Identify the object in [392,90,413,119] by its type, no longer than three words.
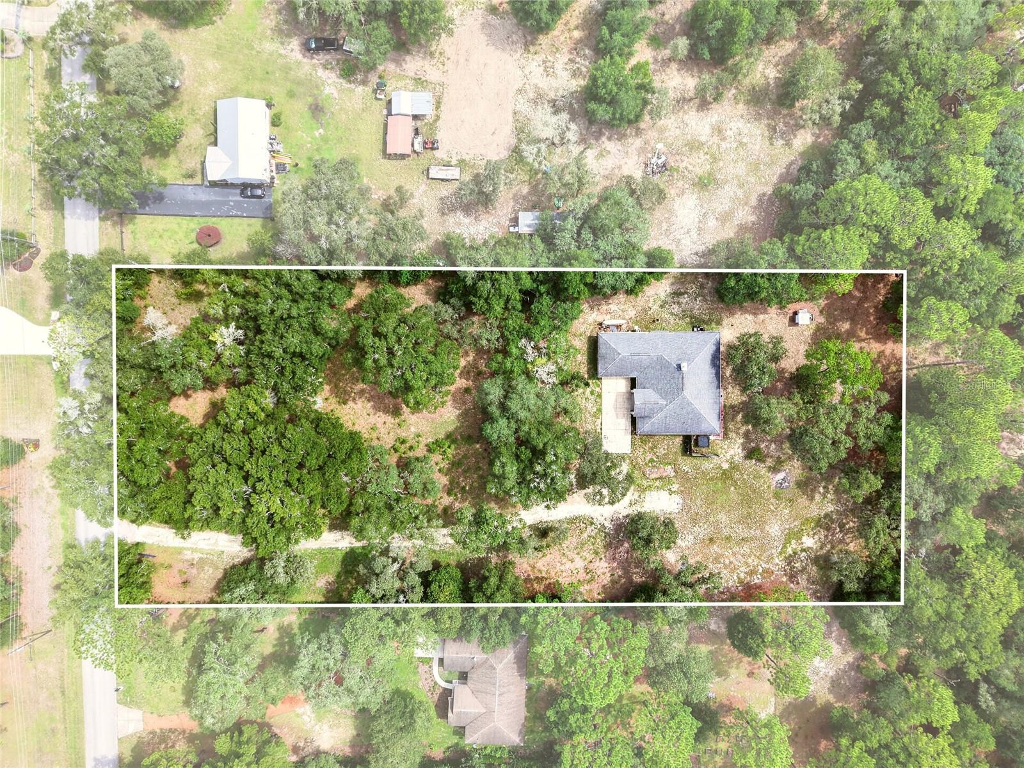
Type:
shed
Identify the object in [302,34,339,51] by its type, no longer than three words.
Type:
vehicle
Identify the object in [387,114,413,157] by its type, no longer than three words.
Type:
shed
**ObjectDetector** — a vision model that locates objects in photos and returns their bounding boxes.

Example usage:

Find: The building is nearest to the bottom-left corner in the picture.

[442,632,526,745]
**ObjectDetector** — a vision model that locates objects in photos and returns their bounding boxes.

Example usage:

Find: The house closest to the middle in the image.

[598,330,722,435]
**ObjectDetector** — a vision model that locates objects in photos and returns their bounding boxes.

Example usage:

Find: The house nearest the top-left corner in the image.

[202,93,276,184]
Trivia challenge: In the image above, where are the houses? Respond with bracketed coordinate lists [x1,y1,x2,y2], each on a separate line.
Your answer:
[202,93,276,184]
[598,330,722,435]
[442,632,526,745]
